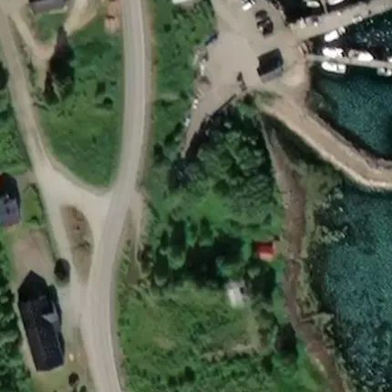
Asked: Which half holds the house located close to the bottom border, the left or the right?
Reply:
left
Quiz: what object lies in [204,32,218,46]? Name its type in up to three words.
vehicle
